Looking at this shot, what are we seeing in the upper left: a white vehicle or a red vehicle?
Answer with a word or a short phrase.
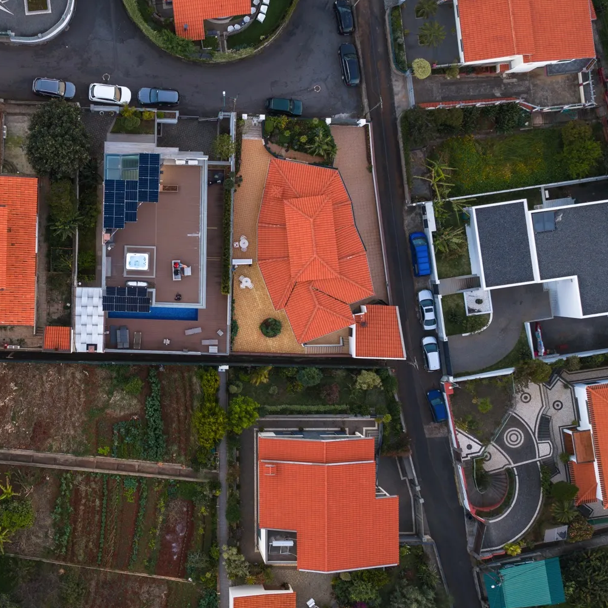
white vehicle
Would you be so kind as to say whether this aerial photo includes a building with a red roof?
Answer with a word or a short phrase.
Yes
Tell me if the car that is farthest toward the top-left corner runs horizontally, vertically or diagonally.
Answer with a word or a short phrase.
horizontally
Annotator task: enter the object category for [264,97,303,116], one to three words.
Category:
car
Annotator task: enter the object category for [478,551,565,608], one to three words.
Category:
shed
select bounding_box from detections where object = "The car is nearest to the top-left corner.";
[32,78,76,100]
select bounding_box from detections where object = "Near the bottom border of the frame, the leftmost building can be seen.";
[226,576,296,608]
